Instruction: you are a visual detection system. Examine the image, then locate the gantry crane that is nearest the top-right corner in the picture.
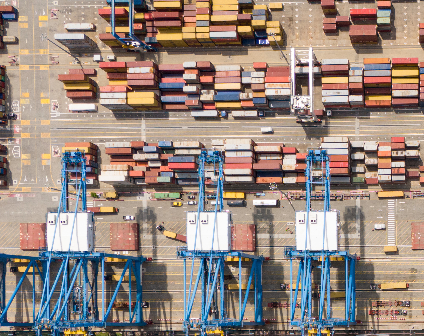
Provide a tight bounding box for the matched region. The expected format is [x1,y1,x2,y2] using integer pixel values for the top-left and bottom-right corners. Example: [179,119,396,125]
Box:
[288,44,324,123]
